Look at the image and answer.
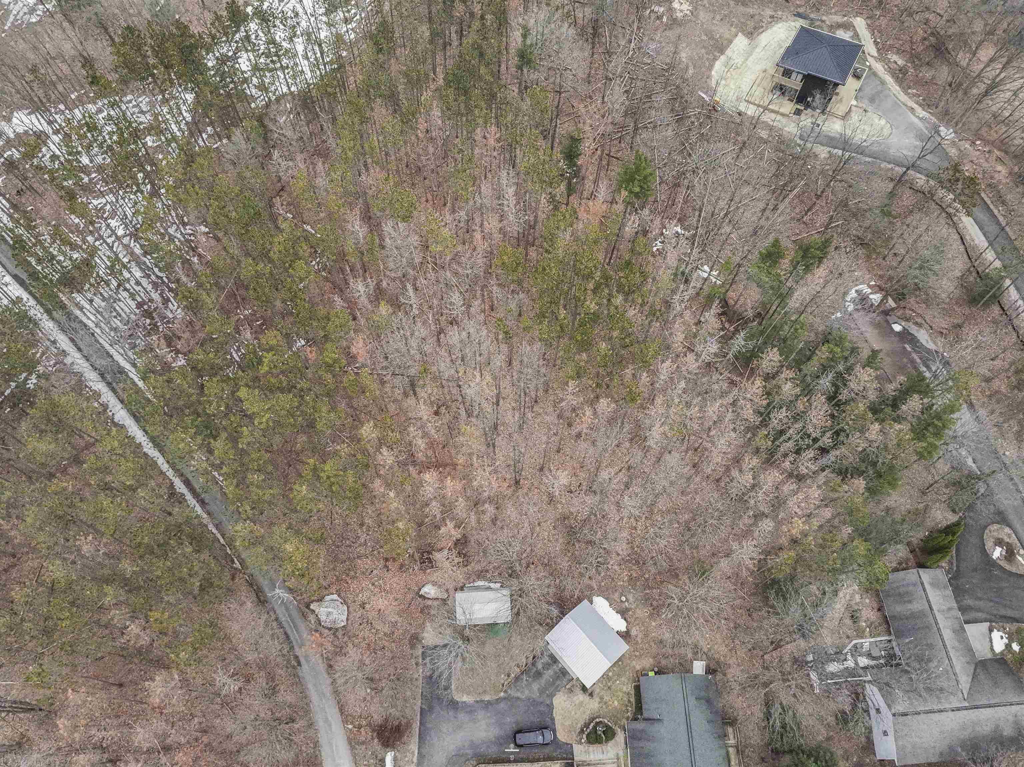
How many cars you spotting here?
1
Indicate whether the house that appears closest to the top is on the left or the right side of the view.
right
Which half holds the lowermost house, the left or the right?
right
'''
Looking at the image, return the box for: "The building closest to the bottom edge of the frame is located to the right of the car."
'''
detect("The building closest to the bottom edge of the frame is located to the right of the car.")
[625,674,727,767]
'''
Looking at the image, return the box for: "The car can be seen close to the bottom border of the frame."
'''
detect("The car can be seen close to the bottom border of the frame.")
[512,726,554,748]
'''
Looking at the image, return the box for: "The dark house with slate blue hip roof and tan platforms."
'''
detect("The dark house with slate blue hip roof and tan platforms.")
[744,25,868,119]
